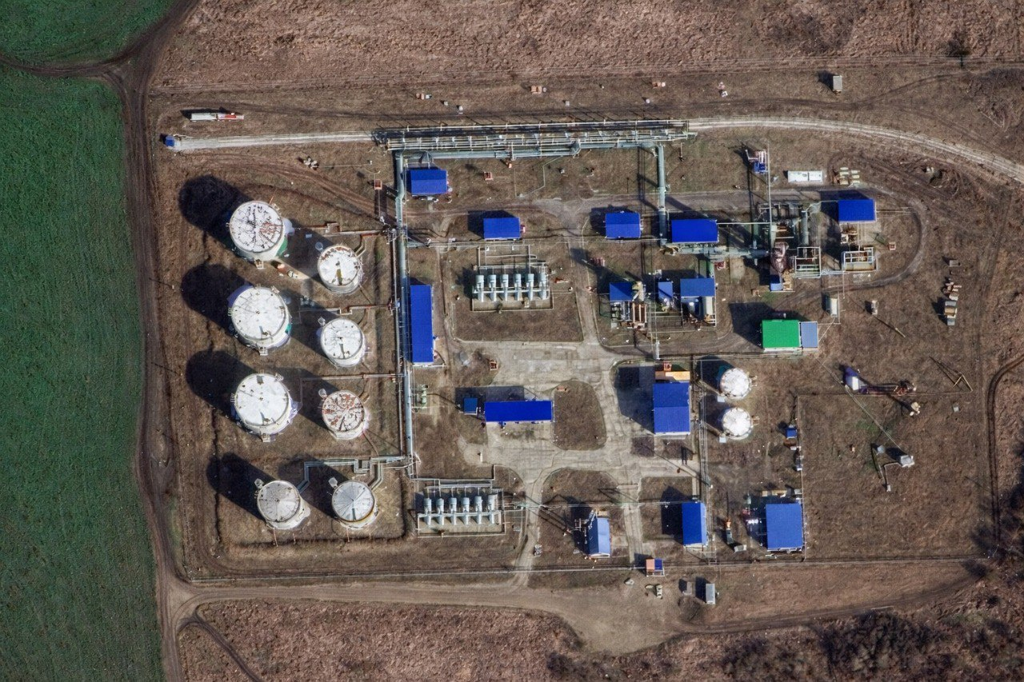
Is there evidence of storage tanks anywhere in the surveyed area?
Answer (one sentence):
Yes, a storage tank is visible in the scene.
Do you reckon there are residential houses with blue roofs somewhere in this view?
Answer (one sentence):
Yes, the photo shows a residential house with a blue roof.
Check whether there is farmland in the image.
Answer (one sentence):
Yes, there is farmland in the image.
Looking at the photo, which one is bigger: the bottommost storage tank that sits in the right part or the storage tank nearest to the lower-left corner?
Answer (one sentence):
Compared with the bottommost storage tank that sits in the right part, the storage tank nearest to the lower-left corner is the bigger one.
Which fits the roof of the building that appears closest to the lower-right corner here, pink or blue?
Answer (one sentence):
The roof of the building that appears closest to the lower-right corner is blue.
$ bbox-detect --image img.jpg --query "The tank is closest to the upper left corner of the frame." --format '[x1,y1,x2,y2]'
[226,200,288,276]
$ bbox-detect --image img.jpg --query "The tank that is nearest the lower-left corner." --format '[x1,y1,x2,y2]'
[254,479,308,545]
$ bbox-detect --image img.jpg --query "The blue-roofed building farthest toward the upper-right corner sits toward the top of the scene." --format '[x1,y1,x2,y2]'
[838,199,877,225]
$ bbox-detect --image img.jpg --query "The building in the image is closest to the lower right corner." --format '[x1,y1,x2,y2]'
[764,502,804,553]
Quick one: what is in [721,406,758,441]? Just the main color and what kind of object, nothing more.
white storage tank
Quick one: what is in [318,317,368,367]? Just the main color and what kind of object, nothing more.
white storage tank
